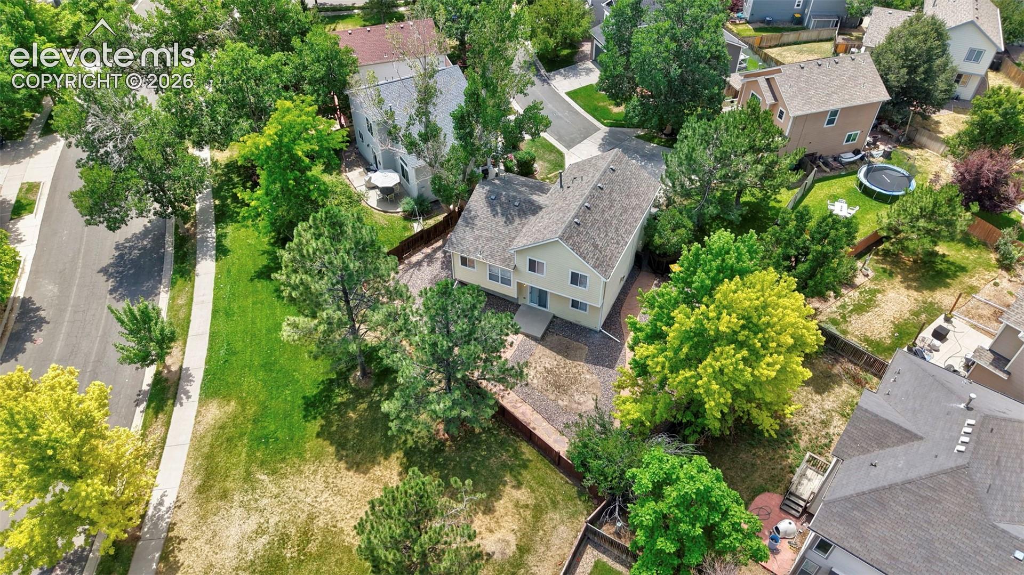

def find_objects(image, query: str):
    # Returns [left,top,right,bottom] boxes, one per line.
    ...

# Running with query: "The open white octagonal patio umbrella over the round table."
[370,171,401,190]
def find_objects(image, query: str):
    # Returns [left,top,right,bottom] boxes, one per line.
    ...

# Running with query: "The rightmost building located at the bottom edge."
[793,346,1024,575]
